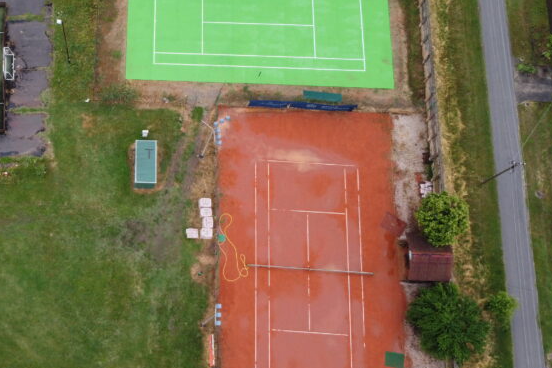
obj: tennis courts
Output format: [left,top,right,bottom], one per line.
[126,0,394,88]
[218,109,405,368]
